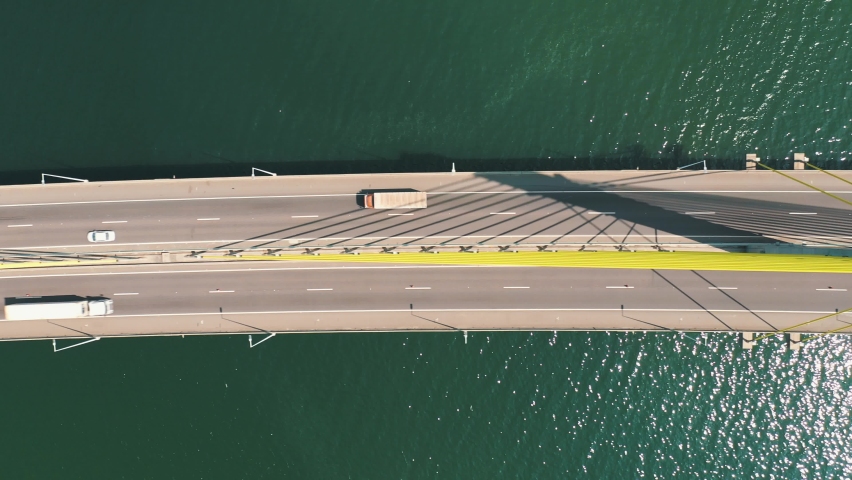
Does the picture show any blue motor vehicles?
No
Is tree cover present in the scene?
No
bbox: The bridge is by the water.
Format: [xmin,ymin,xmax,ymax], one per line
[0,153,852,350]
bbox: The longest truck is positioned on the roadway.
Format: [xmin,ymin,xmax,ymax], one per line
[5,298,115,319]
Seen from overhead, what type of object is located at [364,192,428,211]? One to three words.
vehicle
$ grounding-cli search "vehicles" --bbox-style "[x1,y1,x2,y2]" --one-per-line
[5,298,115,319]
[364,192,428,211]
[90,230,117,242]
